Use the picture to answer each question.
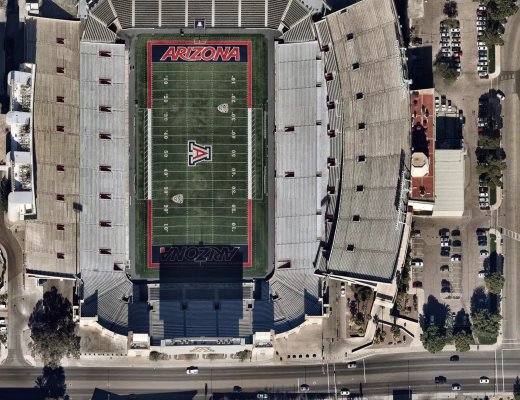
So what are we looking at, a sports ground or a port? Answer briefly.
sports ground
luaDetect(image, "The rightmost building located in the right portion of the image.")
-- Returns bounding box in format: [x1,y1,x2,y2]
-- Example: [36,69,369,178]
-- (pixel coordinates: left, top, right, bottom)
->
[435,149,467,216]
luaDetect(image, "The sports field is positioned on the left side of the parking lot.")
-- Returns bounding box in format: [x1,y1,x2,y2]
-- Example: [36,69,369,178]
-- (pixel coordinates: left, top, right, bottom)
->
[112,25,290,283]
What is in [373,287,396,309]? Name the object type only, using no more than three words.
building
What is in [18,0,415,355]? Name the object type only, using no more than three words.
stadium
